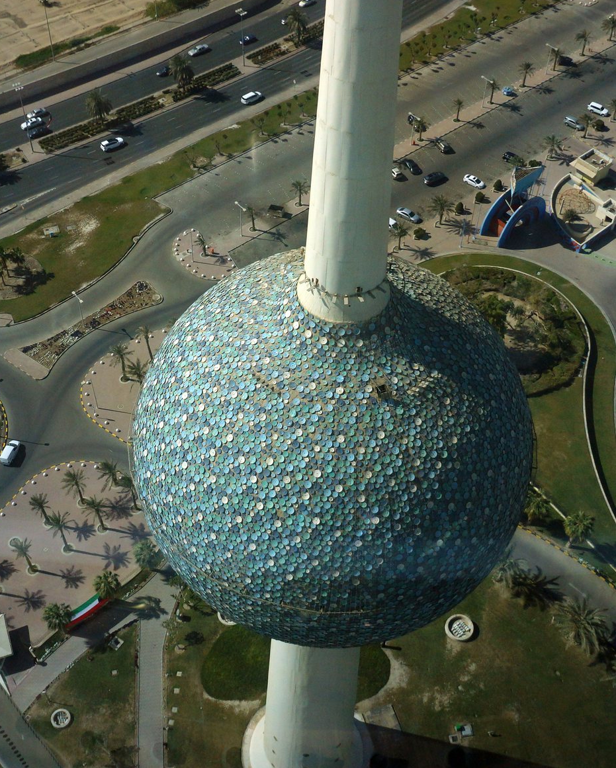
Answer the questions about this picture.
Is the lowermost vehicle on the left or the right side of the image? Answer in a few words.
left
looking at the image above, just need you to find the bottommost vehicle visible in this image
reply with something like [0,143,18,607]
[0,437,20,465]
